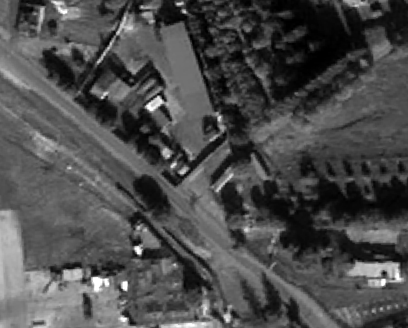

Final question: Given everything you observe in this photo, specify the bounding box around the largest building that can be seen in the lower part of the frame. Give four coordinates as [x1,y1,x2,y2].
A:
[348,262,401,279]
